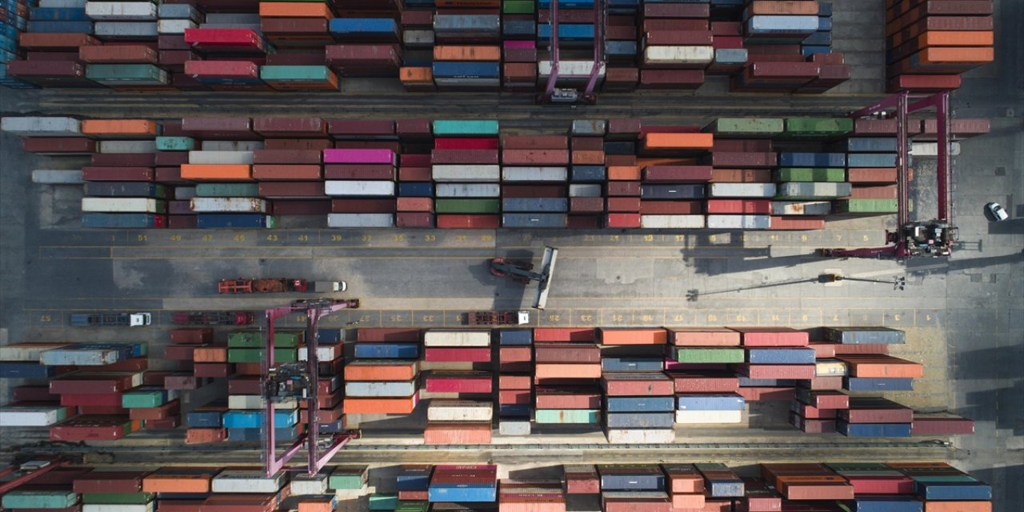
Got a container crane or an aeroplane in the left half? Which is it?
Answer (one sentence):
Looking in the left half, you will find a container crane.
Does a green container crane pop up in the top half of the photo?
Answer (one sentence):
No, there's no green container crane to be seen in the top half of the photo.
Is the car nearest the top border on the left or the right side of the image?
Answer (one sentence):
You can find the car nearest the top border on the right side of the picture.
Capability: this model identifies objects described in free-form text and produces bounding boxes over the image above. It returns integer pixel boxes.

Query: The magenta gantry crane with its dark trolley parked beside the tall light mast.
[825,86,956,264]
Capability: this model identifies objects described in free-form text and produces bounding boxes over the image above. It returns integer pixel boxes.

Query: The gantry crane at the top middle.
[534,0,605,101]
